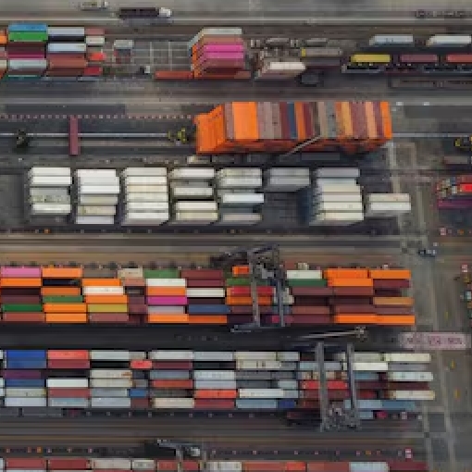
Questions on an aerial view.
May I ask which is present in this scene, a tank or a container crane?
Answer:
container crane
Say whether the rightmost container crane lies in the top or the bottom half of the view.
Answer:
bottom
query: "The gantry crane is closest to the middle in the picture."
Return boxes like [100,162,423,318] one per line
[217,246,301,330]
